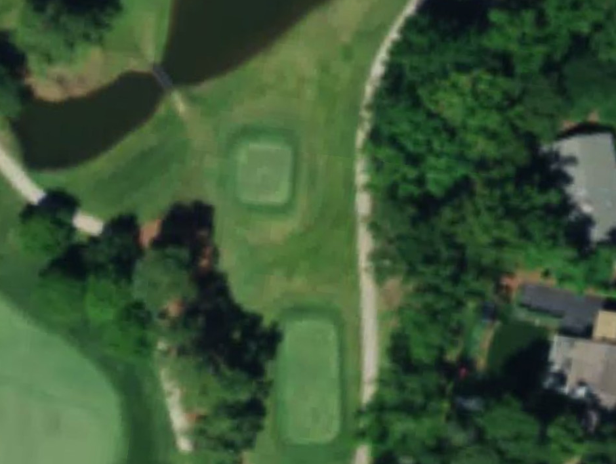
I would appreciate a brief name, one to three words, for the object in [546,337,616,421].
house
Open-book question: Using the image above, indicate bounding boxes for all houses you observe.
[519,282,604,341]
[552,134,616,244]
[546,337,616,421]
